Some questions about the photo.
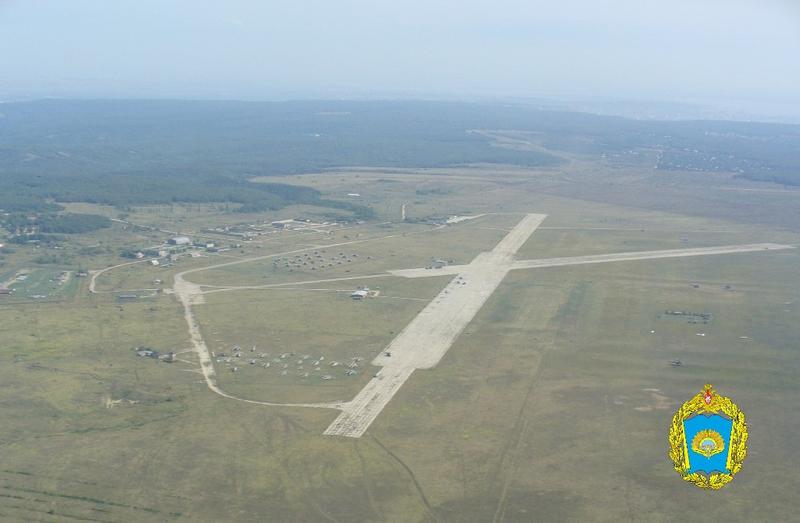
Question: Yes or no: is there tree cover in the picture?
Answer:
Yes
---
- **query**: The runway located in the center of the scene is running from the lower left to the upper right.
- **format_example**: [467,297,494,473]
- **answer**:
[372,213,546,368]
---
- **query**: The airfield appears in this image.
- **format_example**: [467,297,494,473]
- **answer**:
[162,213,796,438]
